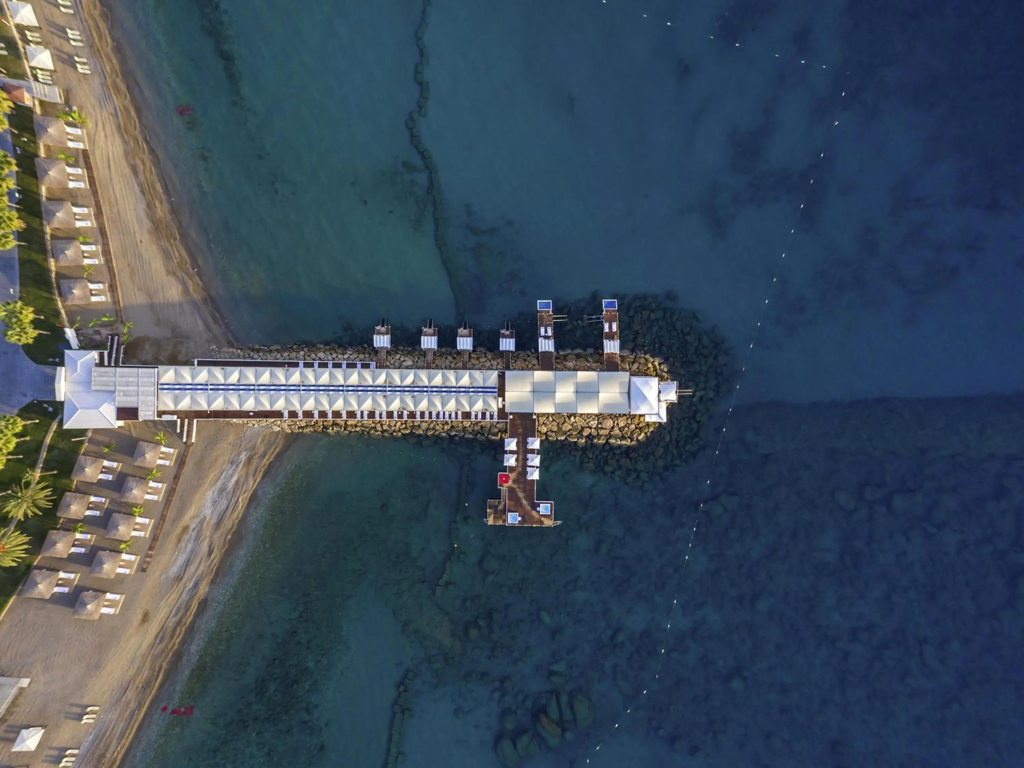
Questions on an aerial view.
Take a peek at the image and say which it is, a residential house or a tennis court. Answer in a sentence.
Of the two, only a residential house appears.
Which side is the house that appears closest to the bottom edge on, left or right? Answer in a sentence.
You can find the house that appears closest to the bottom edge on the left side of the picture.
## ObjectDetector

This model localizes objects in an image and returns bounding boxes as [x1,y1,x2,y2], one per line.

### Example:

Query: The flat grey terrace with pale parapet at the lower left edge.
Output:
[0,675,35,721]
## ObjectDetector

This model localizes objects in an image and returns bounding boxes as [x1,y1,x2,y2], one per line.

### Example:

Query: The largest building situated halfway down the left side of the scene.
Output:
[55,350,129,429]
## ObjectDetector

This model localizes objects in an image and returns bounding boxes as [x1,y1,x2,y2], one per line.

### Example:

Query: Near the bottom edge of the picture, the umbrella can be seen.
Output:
[11,729,44,751]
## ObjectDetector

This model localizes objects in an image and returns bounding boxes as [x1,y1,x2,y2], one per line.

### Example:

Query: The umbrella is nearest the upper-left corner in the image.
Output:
[7,1,38,26]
